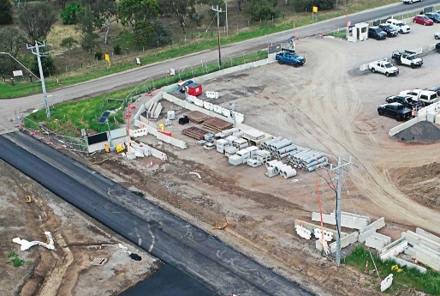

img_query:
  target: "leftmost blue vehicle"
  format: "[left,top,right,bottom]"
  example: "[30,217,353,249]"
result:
[275,49,307,68]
